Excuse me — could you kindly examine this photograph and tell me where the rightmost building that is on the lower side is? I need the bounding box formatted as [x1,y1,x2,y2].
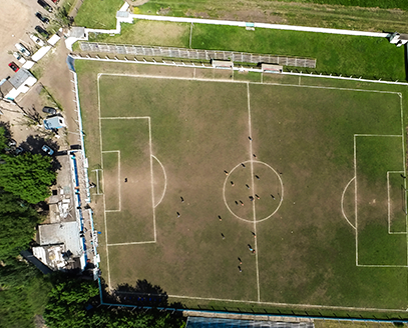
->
[23,155,78,275]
